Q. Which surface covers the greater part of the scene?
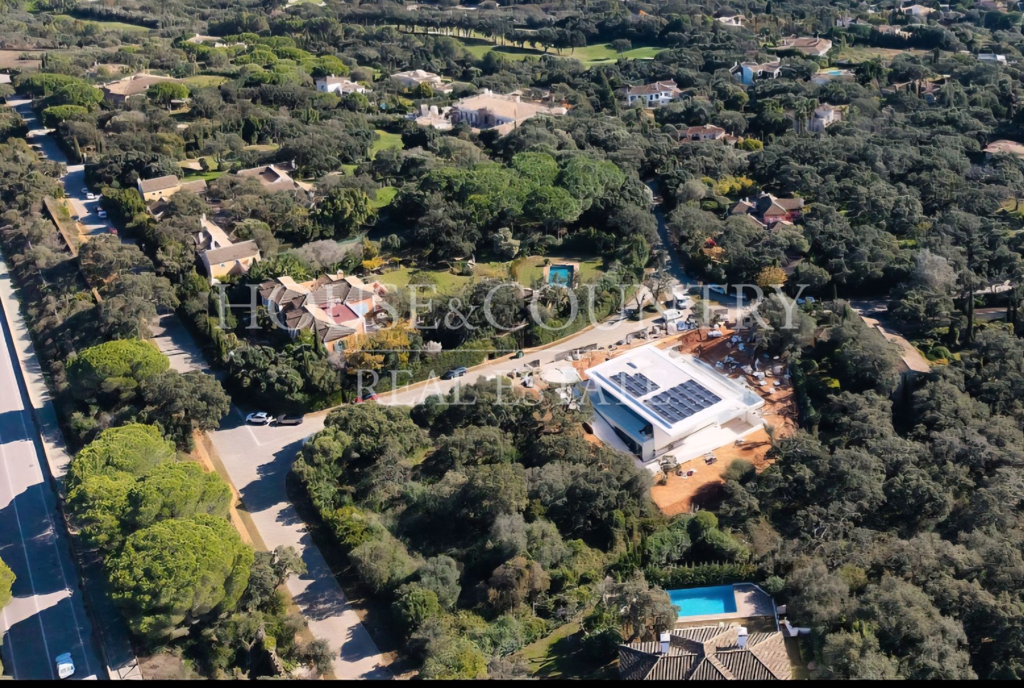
trees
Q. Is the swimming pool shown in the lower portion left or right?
right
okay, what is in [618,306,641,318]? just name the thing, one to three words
vehicle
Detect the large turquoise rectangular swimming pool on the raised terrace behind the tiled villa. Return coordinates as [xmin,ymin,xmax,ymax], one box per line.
[660,583,775,631]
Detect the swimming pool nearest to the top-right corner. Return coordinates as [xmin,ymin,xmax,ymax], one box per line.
[812,69,853,84]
